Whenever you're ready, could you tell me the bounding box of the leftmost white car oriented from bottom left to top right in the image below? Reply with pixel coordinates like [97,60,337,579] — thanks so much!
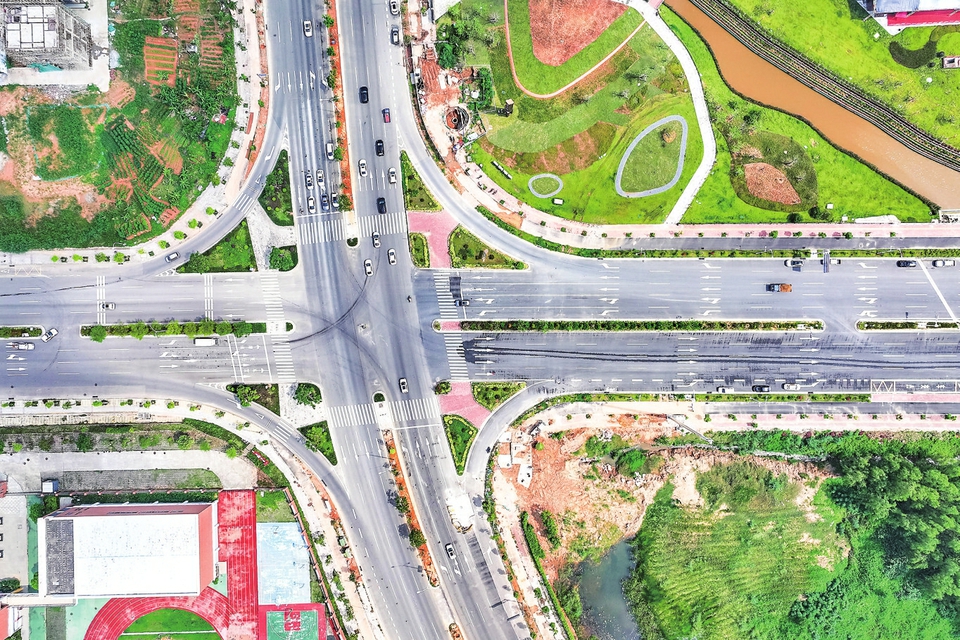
[42,328,59,341]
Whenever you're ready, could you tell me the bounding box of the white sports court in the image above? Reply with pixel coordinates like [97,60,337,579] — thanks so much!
[258,522,311,604]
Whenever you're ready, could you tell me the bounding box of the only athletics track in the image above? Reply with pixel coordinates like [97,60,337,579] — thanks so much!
[83,491,259,640]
